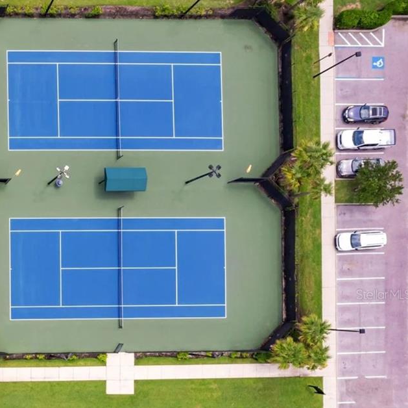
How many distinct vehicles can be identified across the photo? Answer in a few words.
4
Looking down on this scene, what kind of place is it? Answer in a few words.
sports ground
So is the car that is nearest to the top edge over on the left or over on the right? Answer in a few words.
right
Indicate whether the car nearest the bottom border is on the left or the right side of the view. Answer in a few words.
right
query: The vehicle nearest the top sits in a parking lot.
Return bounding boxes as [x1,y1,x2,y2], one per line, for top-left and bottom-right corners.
[341,103,390,125]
